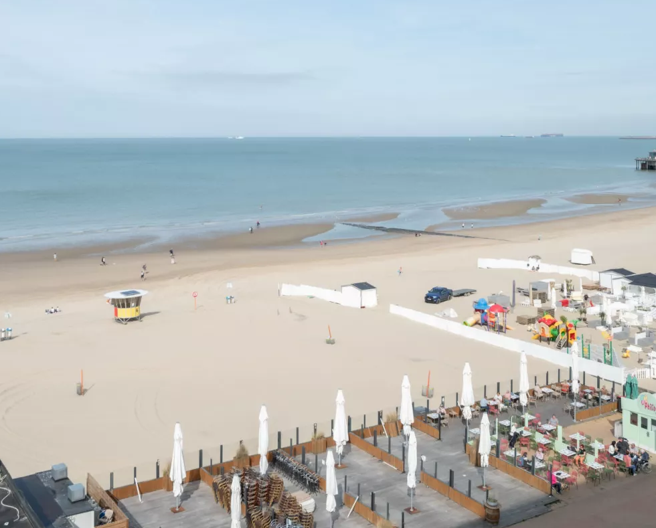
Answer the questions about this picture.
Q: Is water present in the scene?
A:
Yes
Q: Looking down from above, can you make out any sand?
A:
Yes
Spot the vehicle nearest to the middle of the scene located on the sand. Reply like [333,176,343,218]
[425,283,450,303]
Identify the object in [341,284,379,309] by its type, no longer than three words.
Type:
shed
